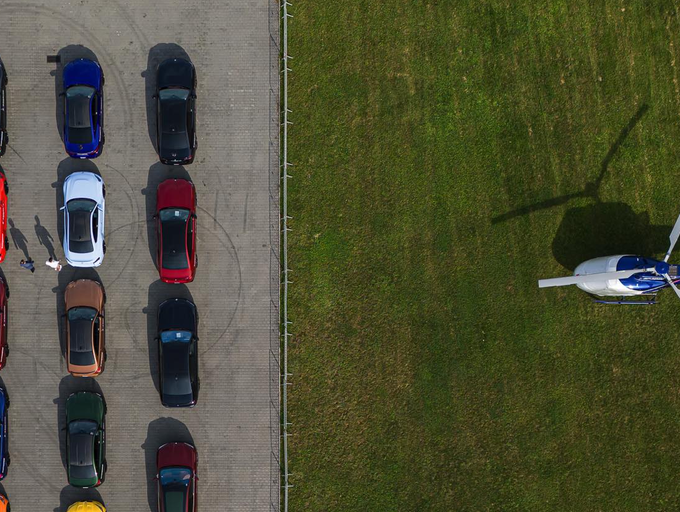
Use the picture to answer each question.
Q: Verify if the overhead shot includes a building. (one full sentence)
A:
No, there isn't any building down there.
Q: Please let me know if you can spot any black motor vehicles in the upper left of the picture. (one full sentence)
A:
Yes, looking in the upper left of the picture, one can make out a black motor vehicle.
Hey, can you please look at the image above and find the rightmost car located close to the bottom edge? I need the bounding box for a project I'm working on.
[152,442,201,512]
